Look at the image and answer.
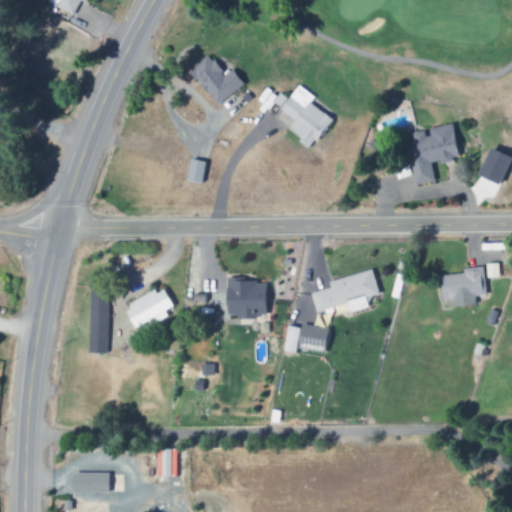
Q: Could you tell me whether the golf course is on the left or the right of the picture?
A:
right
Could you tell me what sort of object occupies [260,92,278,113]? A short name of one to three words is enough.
camper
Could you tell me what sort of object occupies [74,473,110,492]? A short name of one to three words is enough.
building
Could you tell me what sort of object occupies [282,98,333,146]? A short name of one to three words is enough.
house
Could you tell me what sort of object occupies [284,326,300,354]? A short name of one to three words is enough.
shed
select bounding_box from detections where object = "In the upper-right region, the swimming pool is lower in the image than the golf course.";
[382,116,414,130]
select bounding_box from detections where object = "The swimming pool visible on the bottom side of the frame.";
[254,338,268,364]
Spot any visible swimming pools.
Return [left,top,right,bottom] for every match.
[382,116,414,130]
[254,338,268,364]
